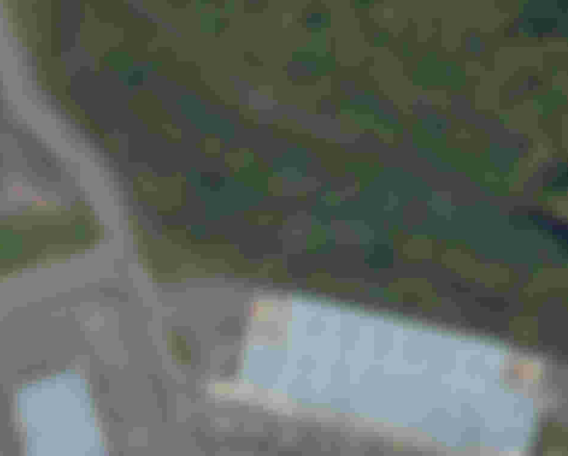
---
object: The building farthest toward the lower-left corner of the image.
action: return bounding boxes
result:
[16,370,106,456]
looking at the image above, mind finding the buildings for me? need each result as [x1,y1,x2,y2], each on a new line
[237,293,545,456]
[16,370,106,456]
